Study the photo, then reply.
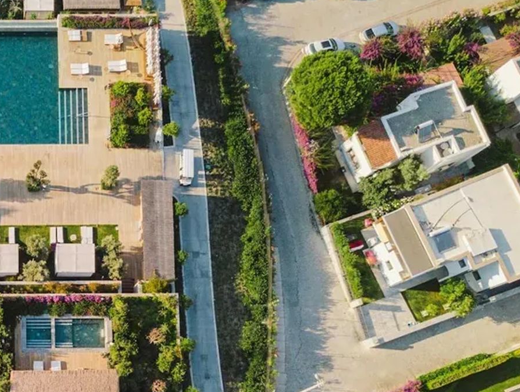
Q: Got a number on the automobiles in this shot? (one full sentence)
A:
There are 2 automobiles in the image.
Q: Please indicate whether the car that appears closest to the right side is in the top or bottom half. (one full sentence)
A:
The car that appears closest to the right side sits in the top half of the picture.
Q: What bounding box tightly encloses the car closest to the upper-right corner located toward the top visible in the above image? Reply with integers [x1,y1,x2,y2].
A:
[359,20,398,44]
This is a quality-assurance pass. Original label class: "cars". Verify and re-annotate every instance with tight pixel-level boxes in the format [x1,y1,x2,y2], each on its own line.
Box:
[303,36,341,57]
[359,20,398,44]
